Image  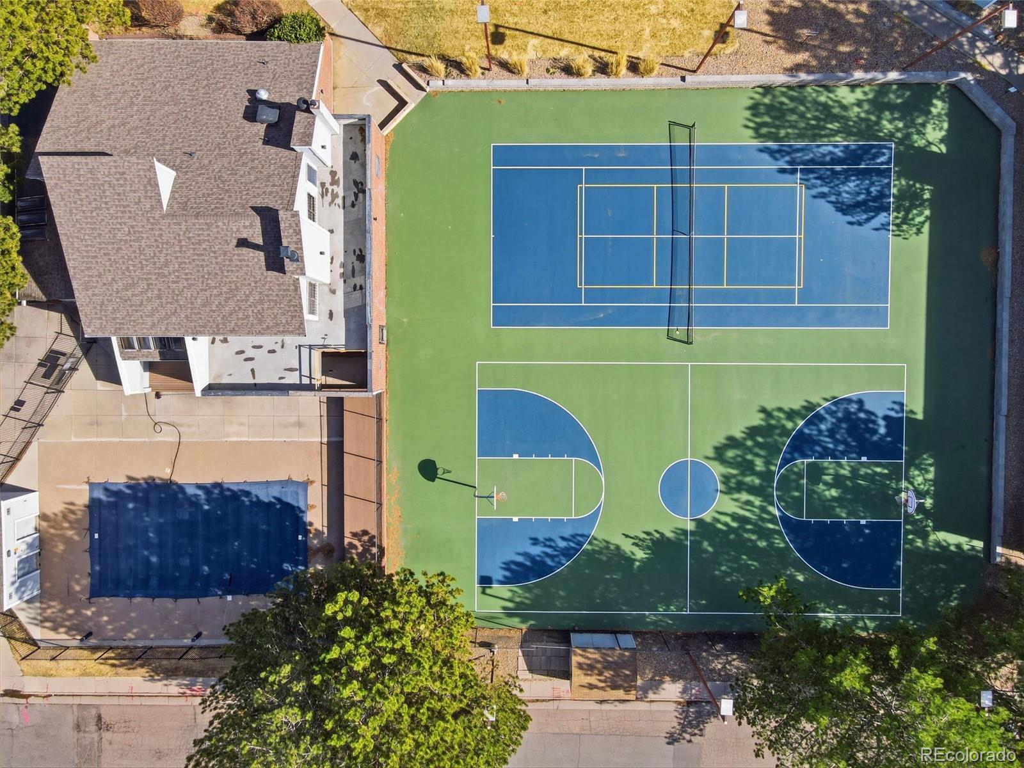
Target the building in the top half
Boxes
[26,39,386,400]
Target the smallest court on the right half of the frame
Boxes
[577,184,804,288]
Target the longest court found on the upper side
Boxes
[491,143,893,329]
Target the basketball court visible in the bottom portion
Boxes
[476,362,906,616]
